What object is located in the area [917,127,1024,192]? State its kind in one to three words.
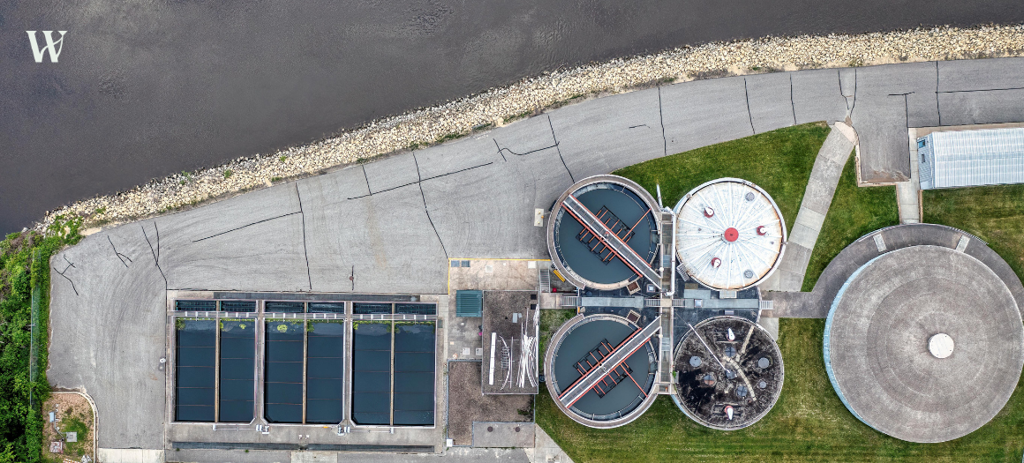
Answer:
building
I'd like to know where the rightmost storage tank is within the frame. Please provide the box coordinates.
[825,245,1024,443]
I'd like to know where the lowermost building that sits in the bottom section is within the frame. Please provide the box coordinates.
[449,360,535,446]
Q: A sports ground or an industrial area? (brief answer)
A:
industrial area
